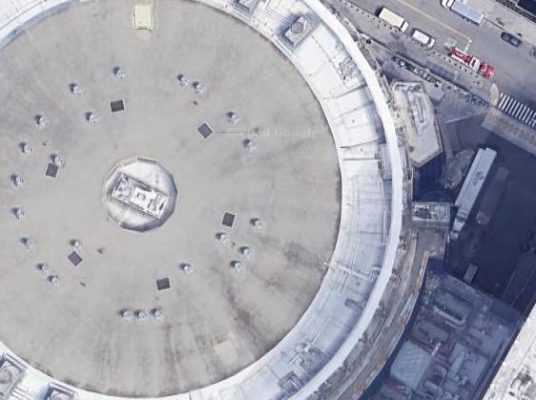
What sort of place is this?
sports ground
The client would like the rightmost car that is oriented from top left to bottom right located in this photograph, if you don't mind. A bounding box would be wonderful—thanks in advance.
[501,32,521,47]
